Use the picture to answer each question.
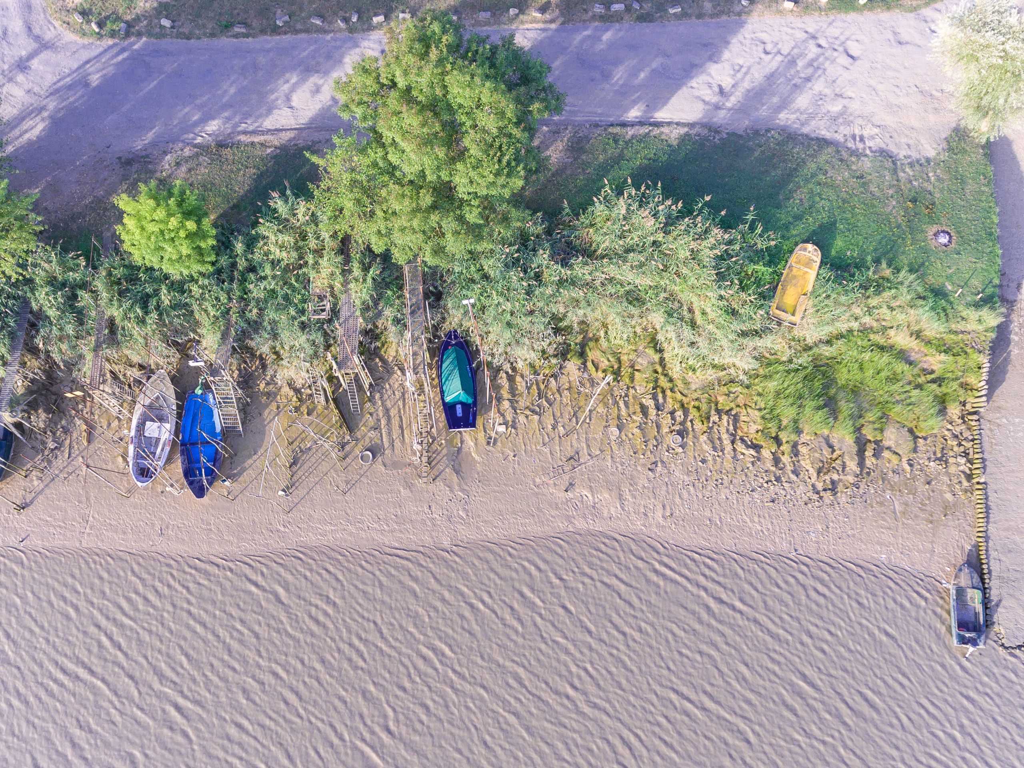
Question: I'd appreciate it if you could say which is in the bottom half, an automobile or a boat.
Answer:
boat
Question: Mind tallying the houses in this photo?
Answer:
zero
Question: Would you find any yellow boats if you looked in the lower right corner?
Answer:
No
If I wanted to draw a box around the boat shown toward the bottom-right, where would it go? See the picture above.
[947,564,988,664]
